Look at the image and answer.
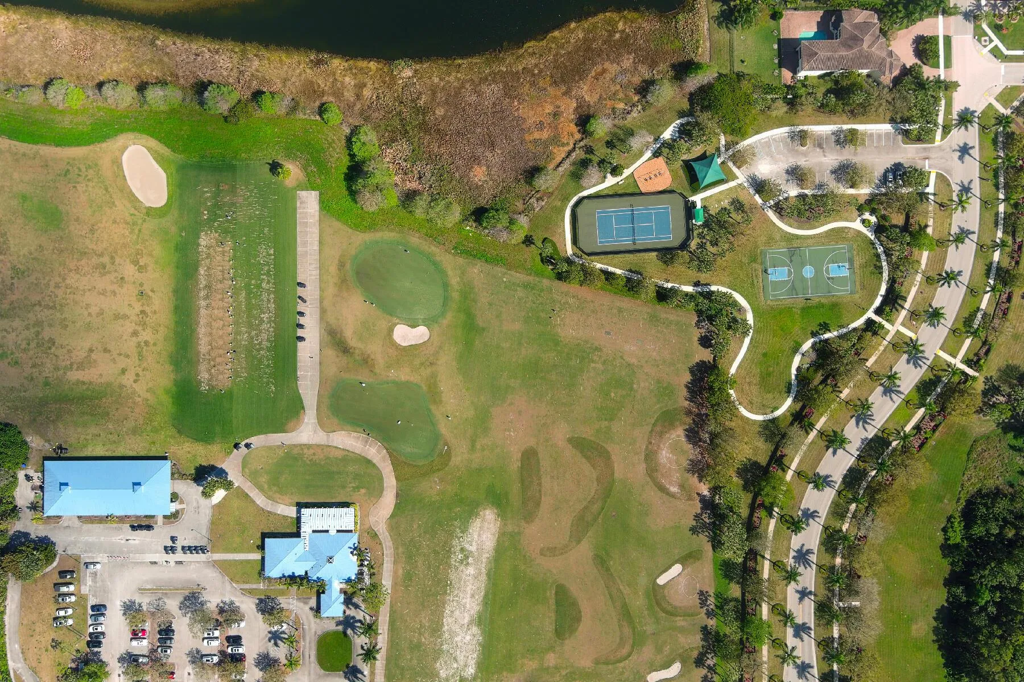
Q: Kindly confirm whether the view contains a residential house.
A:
Yes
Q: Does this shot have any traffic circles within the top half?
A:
No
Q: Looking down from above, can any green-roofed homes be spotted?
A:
No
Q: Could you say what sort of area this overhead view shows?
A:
golf course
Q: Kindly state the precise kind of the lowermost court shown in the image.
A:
basketball court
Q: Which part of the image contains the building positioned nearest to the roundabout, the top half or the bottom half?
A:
bottom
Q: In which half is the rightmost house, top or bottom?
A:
top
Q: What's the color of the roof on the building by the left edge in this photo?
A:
blue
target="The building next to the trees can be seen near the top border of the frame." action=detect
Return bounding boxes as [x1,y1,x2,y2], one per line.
[795,10,904,87]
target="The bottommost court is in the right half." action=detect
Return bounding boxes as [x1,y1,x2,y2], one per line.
[763,244,856,300]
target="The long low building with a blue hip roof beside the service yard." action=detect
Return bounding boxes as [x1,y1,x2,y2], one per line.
[44,460,178,516]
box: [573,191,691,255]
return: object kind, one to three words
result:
tennis court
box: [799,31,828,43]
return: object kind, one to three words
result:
swimming pool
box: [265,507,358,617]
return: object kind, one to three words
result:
building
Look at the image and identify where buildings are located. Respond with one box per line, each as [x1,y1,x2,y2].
[795,10,904,87]
[265,507,358,617]
[44,460,178,516]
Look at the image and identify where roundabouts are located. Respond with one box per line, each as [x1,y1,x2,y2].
[316,629,353,673]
